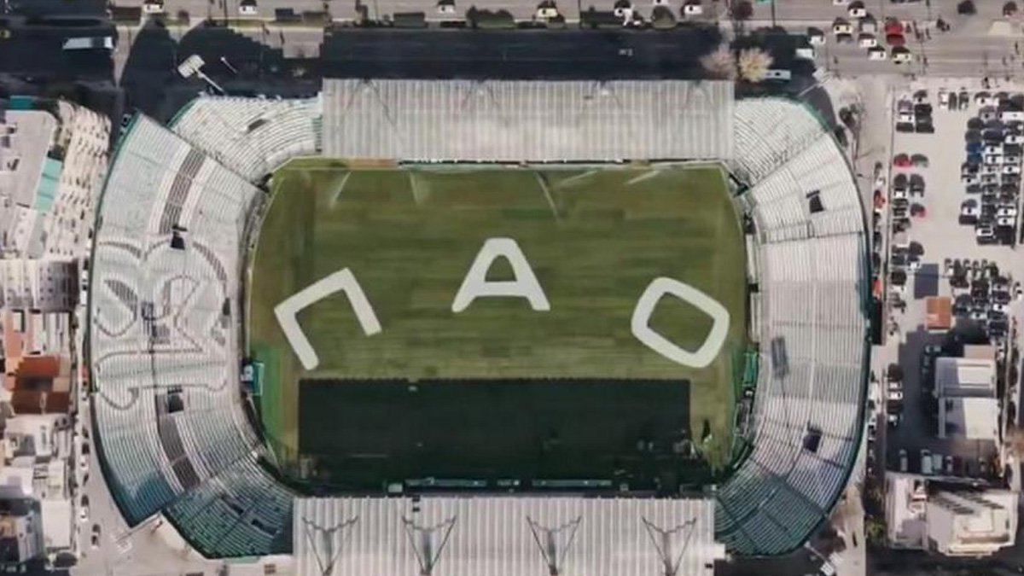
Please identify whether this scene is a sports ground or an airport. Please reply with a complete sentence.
The area seen from above is a sports ground.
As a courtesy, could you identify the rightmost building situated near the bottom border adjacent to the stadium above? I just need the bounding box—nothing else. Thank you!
[909,467,1017,557]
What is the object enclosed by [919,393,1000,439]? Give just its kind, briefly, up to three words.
building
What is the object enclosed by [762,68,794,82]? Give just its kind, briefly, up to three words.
vehicle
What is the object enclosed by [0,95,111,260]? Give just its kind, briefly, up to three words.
building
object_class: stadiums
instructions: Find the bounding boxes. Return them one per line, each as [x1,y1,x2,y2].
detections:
[85,79,872,576]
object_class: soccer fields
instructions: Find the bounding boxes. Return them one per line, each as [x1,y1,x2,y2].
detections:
[248,159,751,492]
